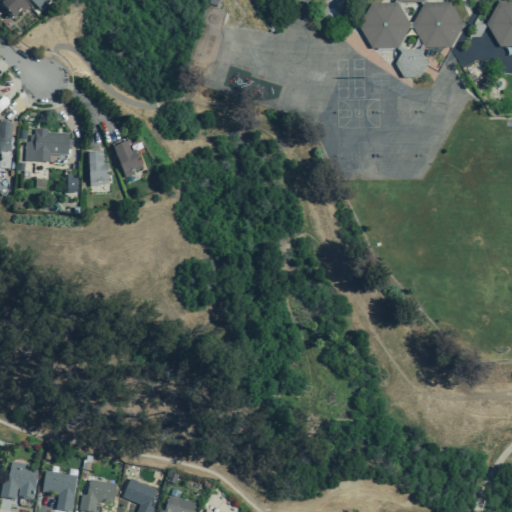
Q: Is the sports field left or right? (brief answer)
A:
right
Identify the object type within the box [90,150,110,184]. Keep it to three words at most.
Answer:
house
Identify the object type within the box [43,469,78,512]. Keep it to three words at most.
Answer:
house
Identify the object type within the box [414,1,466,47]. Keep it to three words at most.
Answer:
building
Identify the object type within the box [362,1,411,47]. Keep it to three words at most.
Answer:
building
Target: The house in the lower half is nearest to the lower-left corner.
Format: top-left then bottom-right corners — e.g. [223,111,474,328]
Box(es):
[0,463,38,500]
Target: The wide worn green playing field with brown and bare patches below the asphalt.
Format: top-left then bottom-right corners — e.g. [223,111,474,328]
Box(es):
[347,102,512,359]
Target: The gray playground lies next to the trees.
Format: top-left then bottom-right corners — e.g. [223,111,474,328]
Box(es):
[205,18,475,180]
